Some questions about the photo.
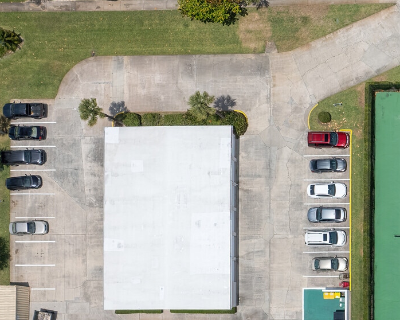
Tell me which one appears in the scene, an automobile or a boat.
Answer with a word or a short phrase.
automobile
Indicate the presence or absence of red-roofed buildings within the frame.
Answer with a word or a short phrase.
No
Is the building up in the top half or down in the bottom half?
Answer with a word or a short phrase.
bottom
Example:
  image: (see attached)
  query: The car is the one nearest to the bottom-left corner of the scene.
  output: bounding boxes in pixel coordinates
[9,218,50,236]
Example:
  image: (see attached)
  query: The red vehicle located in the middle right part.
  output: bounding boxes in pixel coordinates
[307,128,350,148]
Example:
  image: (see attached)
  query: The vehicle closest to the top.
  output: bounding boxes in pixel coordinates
[2,100,50,119]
